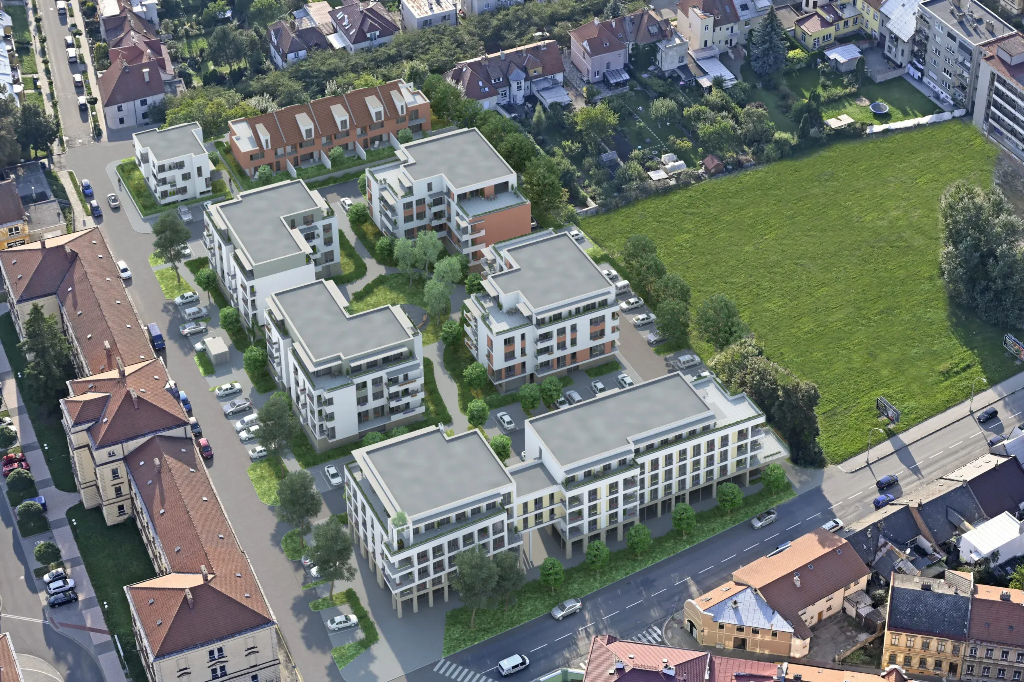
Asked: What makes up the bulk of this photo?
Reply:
buildings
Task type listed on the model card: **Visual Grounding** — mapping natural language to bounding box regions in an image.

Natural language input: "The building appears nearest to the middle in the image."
[459,227,624,394]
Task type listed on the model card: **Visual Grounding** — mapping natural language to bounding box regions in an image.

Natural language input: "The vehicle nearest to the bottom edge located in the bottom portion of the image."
[496,653,532,676]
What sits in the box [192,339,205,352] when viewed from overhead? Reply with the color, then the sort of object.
white vehicle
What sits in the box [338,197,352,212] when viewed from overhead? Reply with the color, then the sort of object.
white car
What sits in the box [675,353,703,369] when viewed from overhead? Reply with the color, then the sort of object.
gray car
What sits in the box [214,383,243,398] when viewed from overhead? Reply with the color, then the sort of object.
white car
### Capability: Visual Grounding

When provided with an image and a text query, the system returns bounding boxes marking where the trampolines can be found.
[869,99,891,111]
